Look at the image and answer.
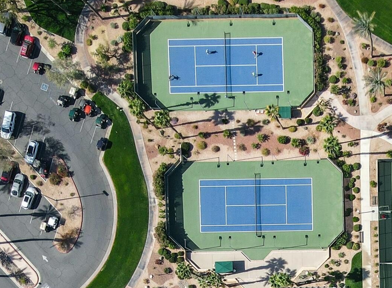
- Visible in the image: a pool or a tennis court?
tennis court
